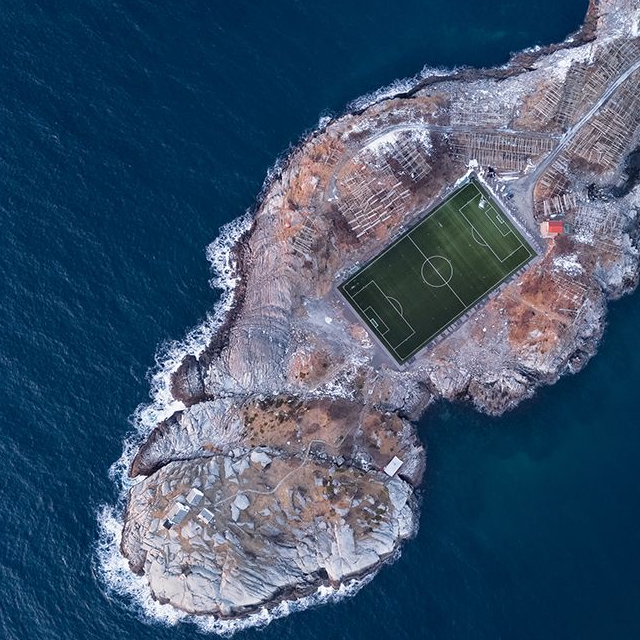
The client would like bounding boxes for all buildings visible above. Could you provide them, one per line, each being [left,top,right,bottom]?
[198,507,215,524]
[383,455,403,475]
[548,222,564,234]
[166,501,190,526]
[186,487,206,507]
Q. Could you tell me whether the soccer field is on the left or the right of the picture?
right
